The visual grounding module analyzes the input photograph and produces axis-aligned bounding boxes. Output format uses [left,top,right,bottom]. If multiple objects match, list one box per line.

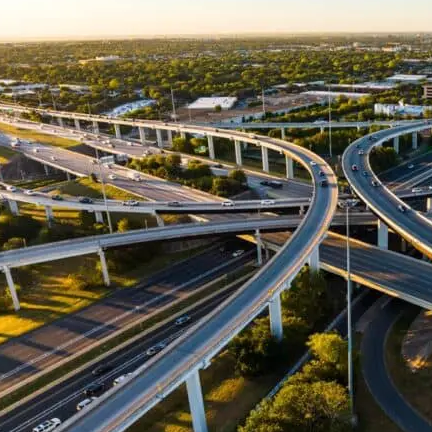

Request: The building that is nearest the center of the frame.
[184,94,242,111]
